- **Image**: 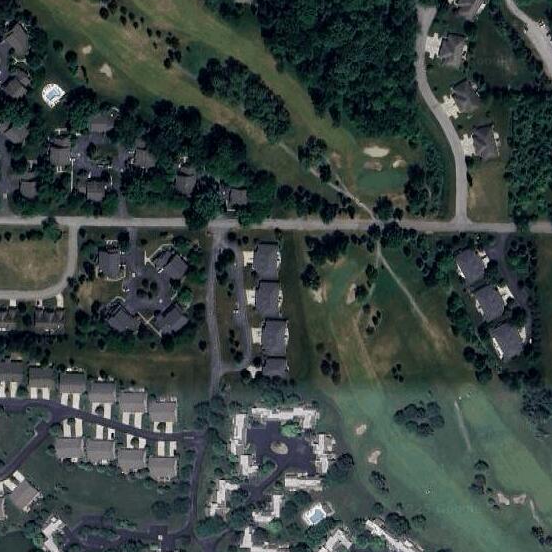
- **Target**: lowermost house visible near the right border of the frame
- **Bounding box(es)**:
[490,320,527,363]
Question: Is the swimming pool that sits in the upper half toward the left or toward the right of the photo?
left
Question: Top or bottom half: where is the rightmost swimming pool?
bottom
